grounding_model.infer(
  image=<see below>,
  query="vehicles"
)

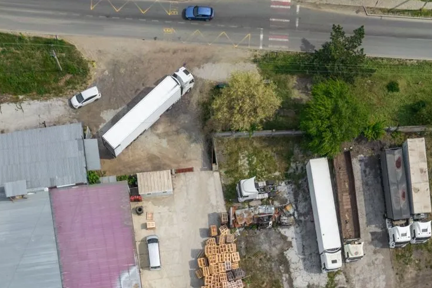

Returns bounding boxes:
[403,138,432,245]
[379,147,414,250]
[235,176,276,199]
[330,151,367,265]
[145,234,163,271]
[307,157,344,272]
[103,61,198,156]
[183,7,214,22]
[71,86,103,109]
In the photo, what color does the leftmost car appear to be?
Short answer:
white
